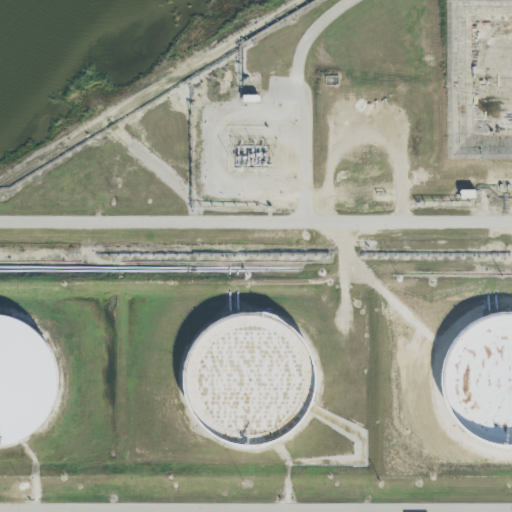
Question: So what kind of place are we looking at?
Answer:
industrial area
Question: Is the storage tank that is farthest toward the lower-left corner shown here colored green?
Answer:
No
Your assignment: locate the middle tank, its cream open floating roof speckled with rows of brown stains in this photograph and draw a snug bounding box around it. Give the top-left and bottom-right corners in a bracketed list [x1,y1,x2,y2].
[181,312,318,450]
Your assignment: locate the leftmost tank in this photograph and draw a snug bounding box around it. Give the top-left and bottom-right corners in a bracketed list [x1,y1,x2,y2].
[0,314,61,452]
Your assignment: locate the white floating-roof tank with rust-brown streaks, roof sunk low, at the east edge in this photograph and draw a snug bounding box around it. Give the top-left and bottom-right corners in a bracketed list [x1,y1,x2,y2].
[441,312,512,450]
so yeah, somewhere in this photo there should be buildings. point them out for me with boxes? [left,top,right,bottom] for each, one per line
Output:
[242,94,262,106]
[460,189,477,201]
